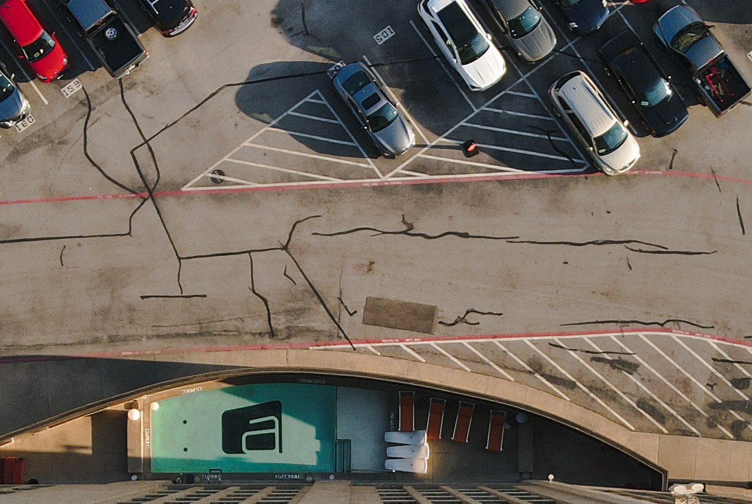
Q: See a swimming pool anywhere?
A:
Yes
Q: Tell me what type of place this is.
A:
parking lot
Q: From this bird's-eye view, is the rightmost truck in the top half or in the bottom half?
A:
top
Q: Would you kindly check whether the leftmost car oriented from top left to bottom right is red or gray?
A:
red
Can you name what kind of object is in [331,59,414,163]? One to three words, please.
car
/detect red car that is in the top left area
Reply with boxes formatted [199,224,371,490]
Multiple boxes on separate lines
[0,0,70,88]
